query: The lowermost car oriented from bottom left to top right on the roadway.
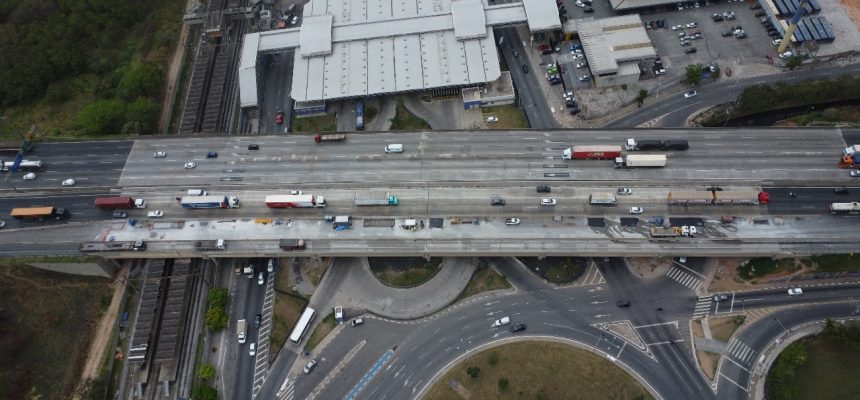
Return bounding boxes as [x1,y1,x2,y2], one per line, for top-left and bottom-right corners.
[302,357,319,375]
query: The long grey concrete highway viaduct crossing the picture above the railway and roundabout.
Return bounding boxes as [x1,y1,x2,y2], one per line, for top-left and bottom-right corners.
[0,124,860,271]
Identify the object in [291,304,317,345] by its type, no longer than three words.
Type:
bus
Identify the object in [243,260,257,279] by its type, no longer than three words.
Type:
vehicle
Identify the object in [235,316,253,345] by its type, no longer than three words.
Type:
vehicle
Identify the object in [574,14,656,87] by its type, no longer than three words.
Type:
building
